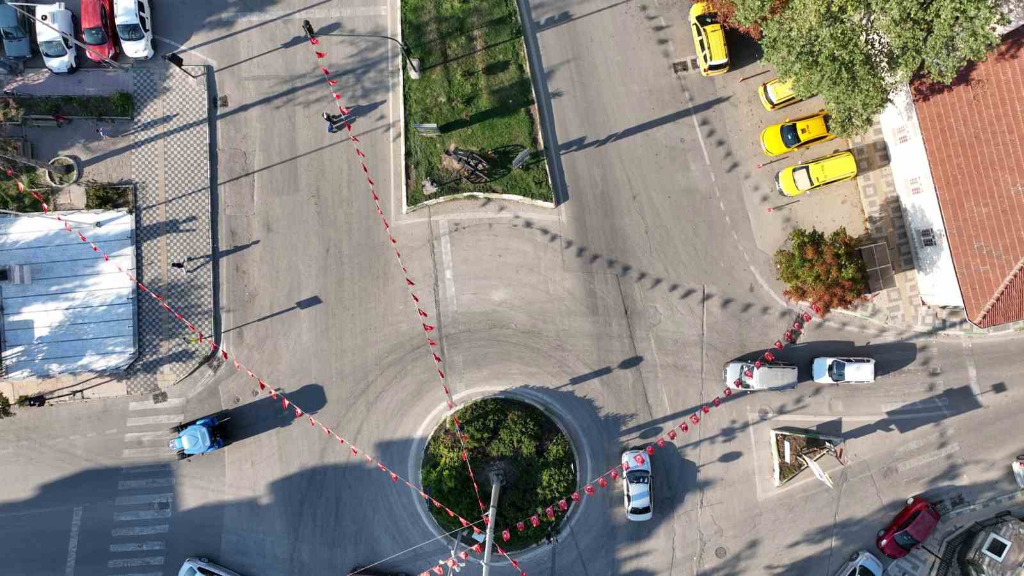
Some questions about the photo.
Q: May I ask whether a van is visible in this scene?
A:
Yes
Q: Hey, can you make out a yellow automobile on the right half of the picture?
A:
Yes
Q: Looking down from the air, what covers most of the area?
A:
paved ground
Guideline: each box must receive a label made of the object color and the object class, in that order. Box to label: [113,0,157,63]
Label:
white car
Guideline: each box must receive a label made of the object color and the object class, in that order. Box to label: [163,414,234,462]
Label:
blue work vehicle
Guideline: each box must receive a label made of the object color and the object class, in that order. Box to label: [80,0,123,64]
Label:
red car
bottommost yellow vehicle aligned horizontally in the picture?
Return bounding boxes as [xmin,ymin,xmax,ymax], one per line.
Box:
[772,149,858,197]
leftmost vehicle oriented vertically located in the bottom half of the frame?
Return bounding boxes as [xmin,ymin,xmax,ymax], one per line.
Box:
[620,445,655,520]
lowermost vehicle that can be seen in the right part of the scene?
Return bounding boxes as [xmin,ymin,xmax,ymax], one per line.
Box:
[830,550,880,576]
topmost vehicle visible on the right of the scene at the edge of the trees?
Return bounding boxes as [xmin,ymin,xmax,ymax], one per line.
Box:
[687,4,729,80]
